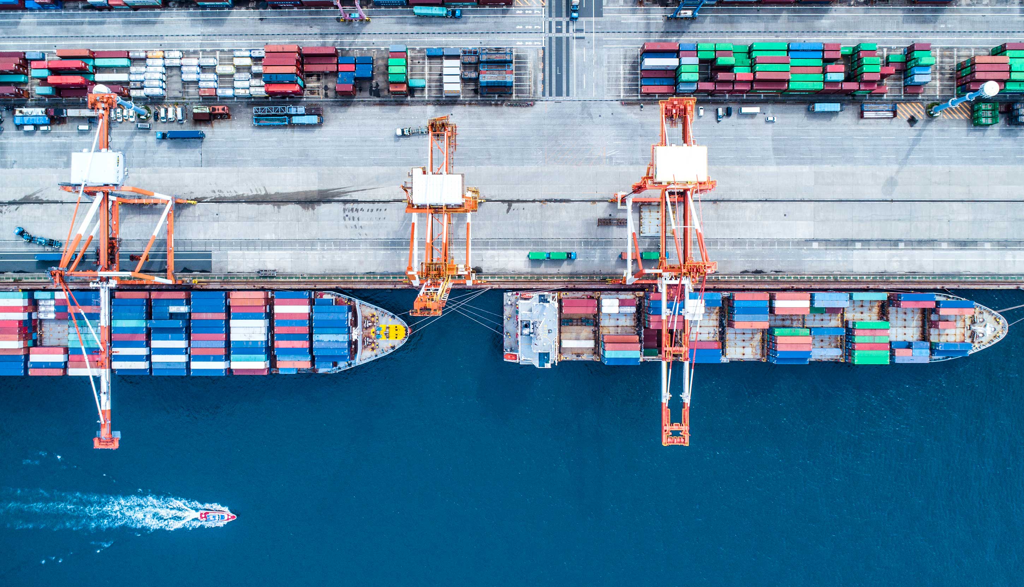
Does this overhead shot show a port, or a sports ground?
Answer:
port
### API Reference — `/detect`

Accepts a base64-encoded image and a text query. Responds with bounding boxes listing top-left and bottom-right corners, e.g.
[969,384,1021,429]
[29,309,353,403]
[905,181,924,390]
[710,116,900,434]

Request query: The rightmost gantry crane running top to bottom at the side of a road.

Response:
[607,97,718,447]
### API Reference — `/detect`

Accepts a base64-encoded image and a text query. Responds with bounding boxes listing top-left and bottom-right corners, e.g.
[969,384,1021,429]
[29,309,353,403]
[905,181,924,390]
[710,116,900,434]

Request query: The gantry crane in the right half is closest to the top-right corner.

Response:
[664,0,711,20]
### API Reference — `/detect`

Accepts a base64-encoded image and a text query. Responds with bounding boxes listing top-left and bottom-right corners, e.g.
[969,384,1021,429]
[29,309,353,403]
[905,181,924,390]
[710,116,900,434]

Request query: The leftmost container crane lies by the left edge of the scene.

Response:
[43,95,201,448]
